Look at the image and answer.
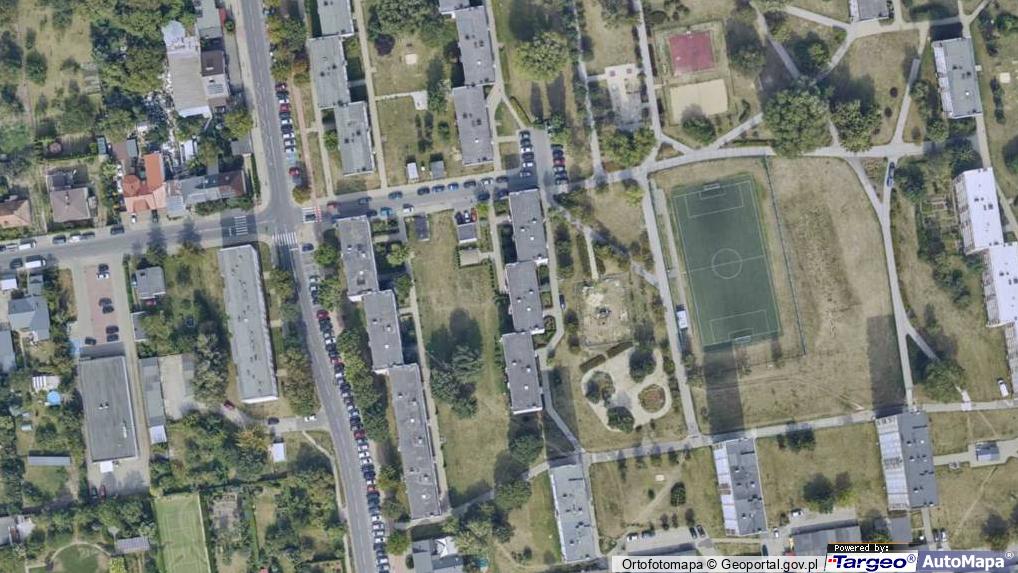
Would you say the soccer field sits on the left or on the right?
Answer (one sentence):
The soccer field sits on the right side.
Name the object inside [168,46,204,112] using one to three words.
building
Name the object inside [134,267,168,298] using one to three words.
house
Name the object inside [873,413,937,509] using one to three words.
building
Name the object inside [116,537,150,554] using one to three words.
shed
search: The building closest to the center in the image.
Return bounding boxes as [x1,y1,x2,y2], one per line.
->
[505,261,545,333]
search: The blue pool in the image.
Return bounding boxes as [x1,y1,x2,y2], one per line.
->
[47,391,61,405]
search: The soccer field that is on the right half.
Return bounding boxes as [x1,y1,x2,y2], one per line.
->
[672,173,781,352]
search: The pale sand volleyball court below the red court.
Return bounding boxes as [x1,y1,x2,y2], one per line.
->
[671,80,728,118]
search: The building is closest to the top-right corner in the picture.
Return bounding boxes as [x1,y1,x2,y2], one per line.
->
[933,38,982,124]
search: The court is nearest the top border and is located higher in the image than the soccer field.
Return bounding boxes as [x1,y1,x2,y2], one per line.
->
[669,31,716,74]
